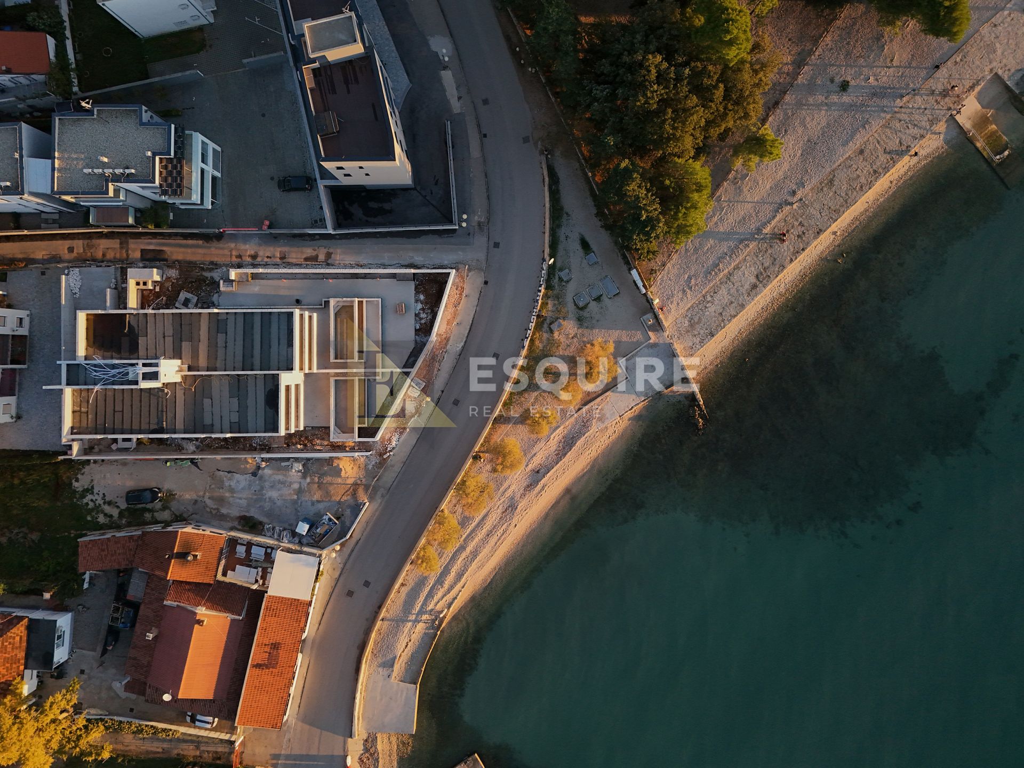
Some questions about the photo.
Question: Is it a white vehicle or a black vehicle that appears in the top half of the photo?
black vehicle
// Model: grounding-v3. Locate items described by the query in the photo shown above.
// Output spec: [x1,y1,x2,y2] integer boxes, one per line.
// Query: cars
[121,487,160,506]
[276,172,312,191]
[184,712,217,733]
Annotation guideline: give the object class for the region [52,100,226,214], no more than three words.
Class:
building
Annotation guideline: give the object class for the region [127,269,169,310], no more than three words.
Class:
building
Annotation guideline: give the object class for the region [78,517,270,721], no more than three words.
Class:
house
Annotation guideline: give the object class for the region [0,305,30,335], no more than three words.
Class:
house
